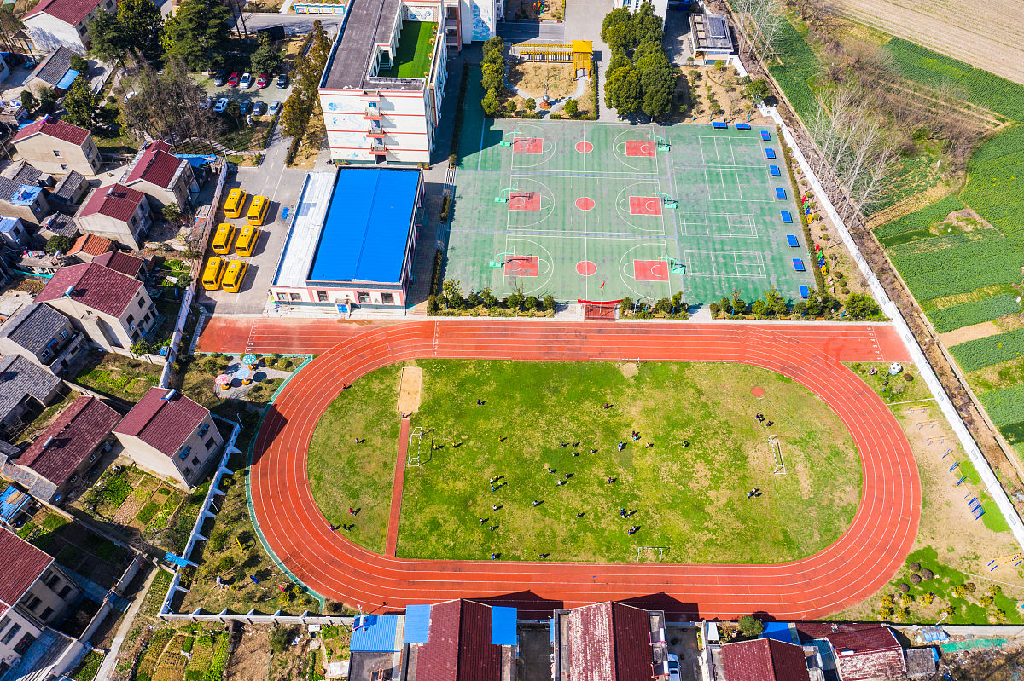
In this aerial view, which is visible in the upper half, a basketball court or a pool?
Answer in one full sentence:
The feature located in the upper half is a basketball court.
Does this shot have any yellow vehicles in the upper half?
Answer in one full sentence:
Yes, in the upper half there is a yellow vehicle.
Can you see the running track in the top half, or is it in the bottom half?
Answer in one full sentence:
Seen from above, the running track lies in the bottom half of the view.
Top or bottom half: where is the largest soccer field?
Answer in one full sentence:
The bottom half of the photo is where the largest soccer field is.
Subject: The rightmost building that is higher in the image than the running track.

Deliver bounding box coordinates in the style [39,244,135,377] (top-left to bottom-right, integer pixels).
[682,12,733,65]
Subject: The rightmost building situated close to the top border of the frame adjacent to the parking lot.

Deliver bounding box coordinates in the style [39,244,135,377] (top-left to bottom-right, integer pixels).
[318,0,451,161]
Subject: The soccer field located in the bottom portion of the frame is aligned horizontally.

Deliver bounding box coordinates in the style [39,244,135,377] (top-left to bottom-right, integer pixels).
[307,358,863,564]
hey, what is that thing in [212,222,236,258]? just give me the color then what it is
yellow bus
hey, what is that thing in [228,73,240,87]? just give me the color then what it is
red vehicle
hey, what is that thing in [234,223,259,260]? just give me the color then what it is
yellow bus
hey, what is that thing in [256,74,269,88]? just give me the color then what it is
red vehicle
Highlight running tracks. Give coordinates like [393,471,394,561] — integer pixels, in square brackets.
[196,317,924,624]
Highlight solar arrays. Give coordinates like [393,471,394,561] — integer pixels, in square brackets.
[703,14,725,35]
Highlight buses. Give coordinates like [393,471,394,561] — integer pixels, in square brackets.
[223,187,248,221]
[212,222,236,258]
[201,255,227,294]
[246,194,271,229]
[234,223,259,260]
[221,258,247,297]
